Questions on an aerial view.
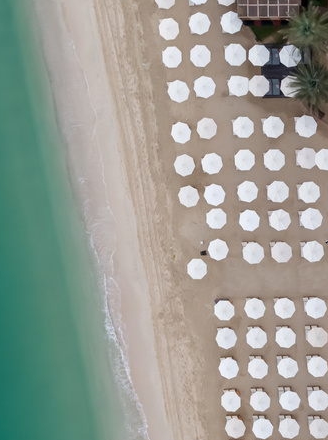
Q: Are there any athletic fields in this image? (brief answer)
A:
No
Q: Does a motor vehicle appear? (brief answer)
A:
No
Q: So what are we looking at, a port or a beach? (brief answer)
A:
beach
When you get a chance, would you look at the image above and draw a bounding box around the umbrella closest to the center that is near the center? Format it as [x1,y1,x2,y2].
[178,186,199,206]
